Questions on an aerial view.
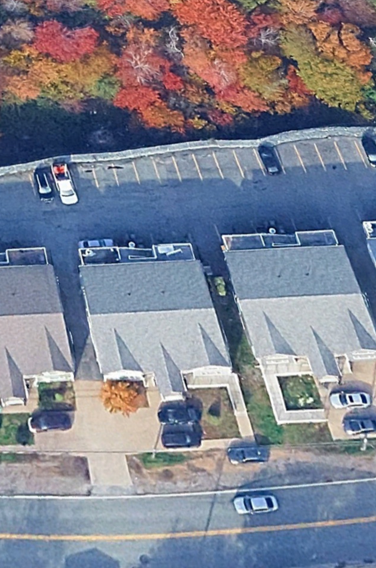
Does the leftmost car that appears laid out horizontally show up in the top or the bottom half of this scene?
bottom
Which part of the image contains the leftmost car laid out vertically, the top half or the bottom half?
top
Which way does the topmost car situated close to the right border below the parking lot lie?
from side to side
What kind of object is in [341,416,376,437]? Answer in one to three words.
car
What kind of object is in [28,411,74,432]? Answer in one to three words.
car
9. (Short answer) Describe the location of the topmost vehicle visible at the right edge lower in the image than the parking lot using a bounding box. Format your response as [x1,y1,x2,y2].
[329,389,370,409]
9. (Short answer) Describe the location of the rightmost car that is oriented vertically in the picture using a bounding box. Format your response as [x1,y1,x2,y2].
[359,132,376,169]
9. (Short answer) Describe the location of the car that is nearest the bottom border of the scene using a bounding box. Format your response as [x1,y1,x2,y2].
[233,494,279,513]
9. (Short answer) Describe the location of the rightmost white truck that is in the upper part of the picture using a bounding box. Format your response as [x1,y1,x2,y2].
[51,160,76,206]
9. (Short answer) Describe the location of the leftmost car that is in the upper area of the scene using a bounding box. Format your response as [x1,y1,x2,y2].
[34,164,54,202]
